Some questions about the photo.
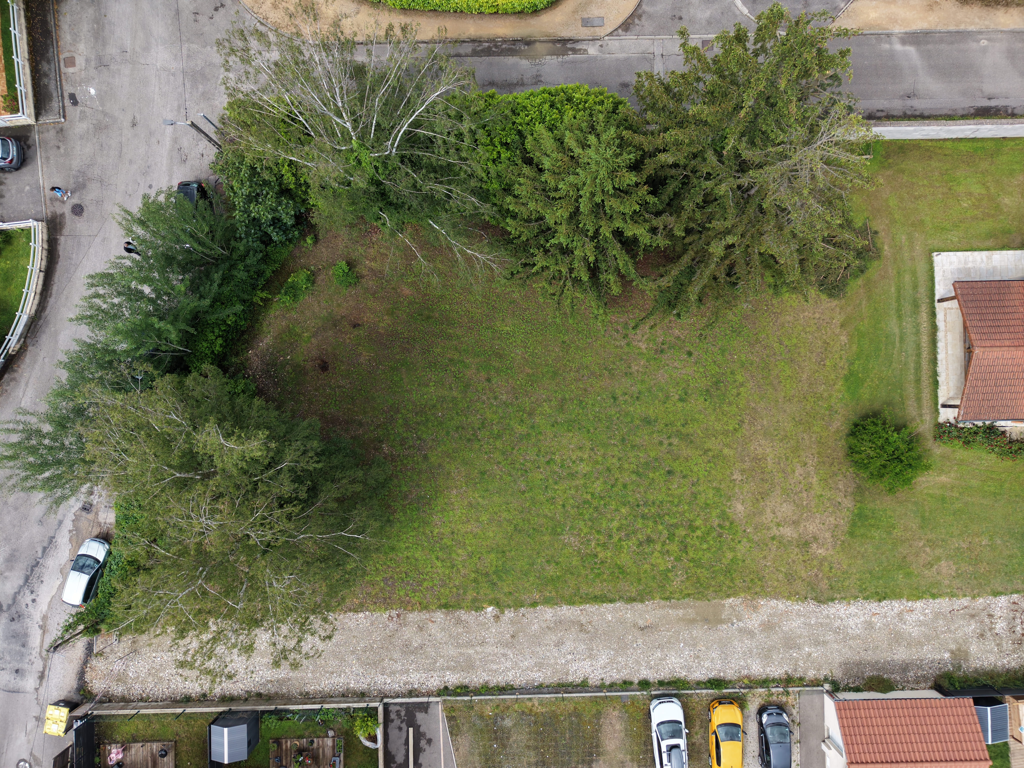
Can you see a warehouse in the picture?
No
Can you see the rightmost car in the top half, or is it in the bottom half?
bottom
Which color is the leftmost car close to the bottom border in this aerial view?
white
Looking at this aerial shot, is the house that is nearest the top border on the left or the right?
right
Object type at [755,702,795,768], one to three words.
car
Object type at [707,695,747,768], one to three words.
car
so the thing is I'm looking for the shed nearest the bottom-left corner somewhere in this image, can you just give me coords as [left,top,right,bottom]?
[211,710,259,762]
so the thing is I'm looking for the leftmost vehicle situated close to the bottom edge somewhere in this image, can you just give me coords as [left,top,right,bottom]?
[648,695,689,768]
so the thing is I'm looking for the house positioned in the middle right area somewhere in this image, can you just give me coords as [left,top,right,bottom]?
[939,278,1024,422]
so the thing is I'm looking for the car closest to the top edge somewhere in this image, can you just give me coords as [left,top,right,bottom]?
[0,137,31,174]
